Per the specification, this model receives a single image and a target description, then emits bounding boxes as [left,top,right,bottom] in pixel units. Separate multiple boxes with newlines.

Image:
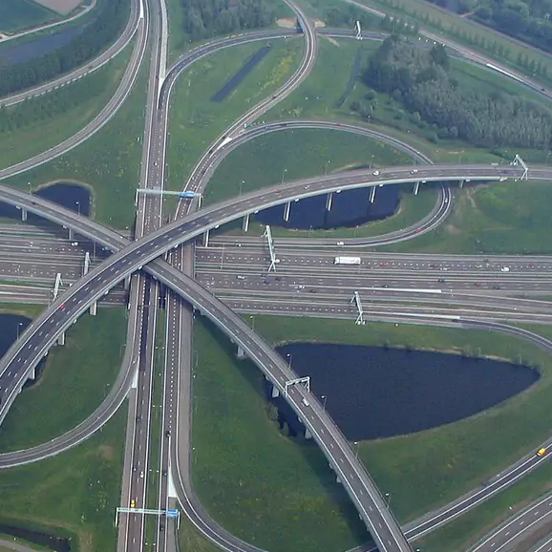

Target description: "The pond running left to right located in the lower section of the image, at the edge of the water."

[264,343,540,442]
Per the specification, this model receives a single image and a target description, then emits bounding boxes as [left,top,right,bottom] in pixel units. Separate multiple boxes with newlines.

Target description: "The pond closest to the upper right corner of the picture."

[251,165,401,231]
